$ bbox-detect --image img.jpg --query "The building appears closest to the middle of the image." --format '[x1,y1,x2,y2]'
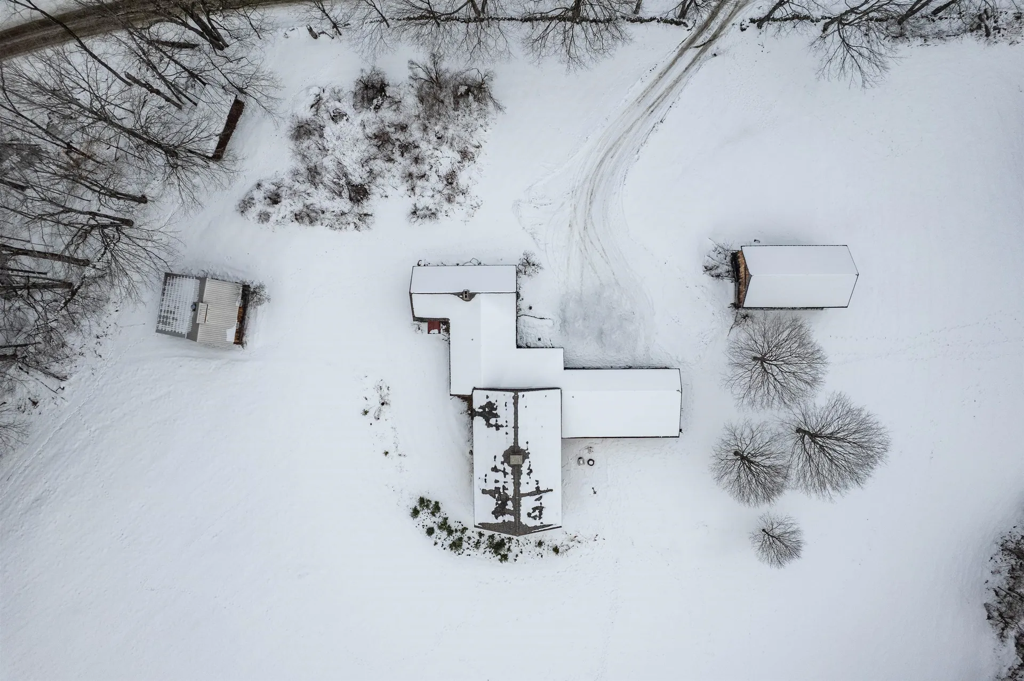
[409,264,685,536]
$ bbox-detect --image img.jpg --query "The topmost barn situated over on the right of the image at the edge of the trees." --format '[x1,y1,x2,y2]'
[735,245,859,309]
